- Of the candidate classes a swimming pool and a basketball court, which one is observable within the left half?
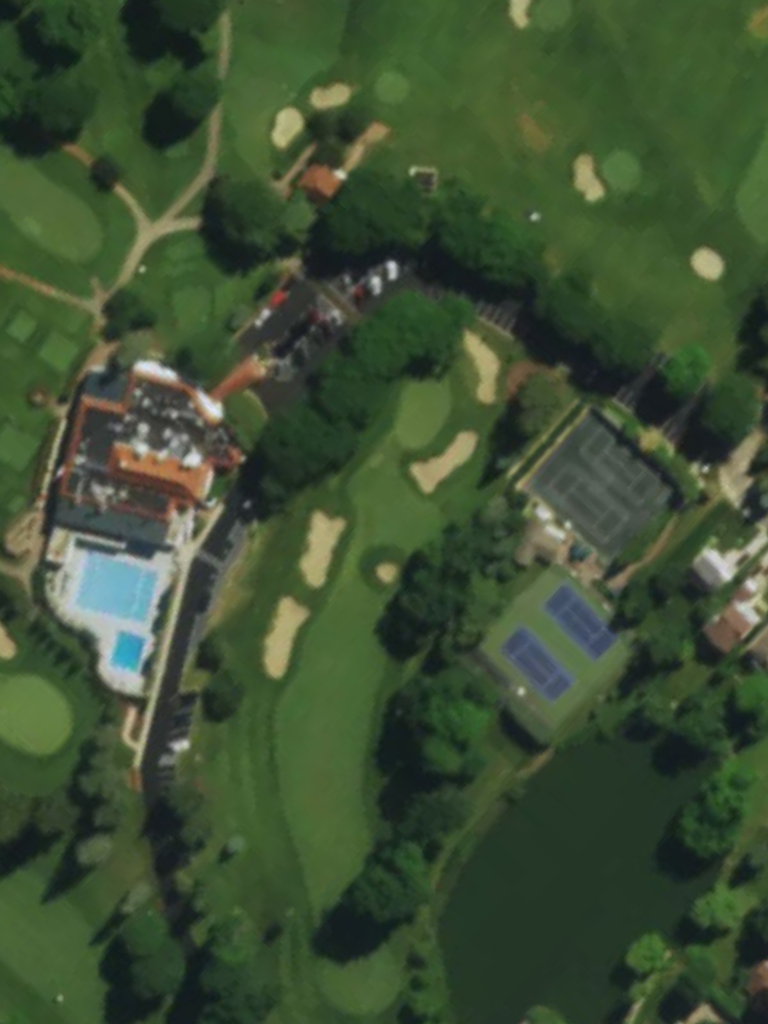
swimming pool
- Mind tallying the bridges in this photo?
0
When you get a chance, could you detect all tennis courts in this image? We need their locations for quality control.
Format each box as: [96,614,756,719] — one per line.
[525,448,642,560]
[484,605,601,742]
[519,563,637,680]
[559,410,680,526]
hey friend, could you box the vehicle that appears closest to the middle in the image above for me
[242,497,254,513]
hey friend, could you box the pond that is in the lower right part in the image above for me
[440,738,713,1024]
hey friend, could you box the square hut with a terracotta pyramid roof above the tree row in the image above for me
[301,166,347,203]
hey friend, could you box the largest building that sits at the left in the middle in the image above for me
[53,351,265,546]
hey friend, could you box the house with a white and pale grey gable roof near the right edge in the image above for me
[694,546,734,592]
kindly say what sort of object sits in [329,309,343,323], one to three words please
car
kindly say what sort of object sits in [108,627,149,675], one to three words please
swimming pool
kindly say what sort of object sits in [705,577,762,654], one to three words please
house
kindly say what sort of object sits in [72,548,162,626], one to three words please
swimming pool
